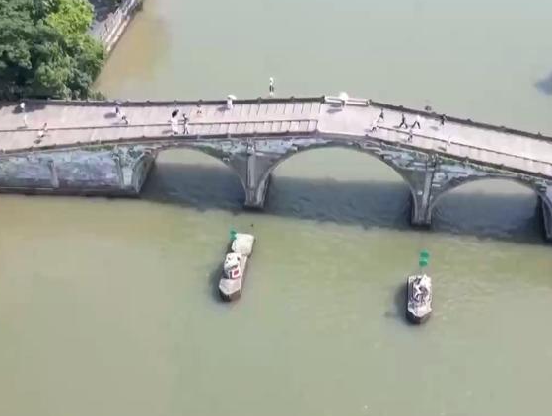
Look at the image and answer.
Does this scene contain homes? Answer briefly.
No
